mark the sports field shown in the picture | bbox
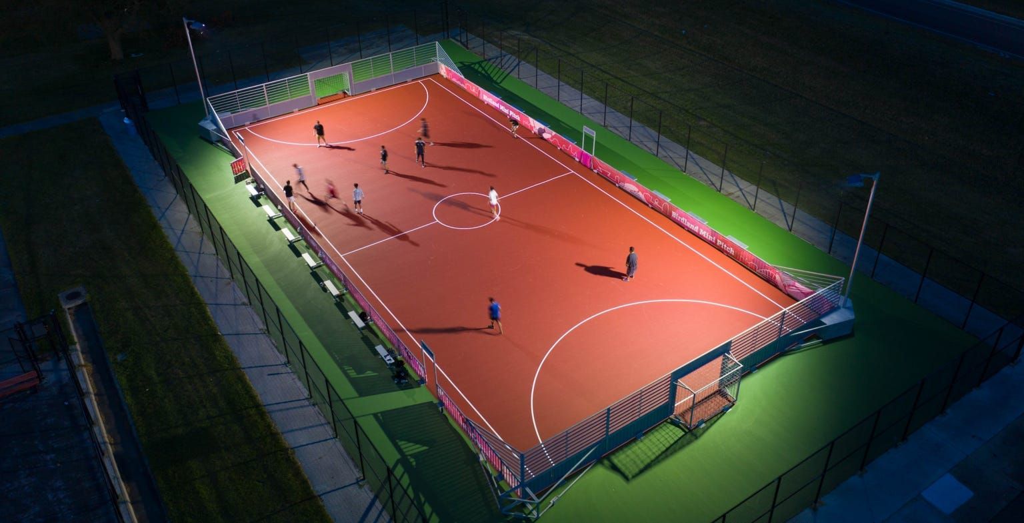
[220,73,819,506]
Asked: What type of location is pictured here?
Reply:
sports ground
